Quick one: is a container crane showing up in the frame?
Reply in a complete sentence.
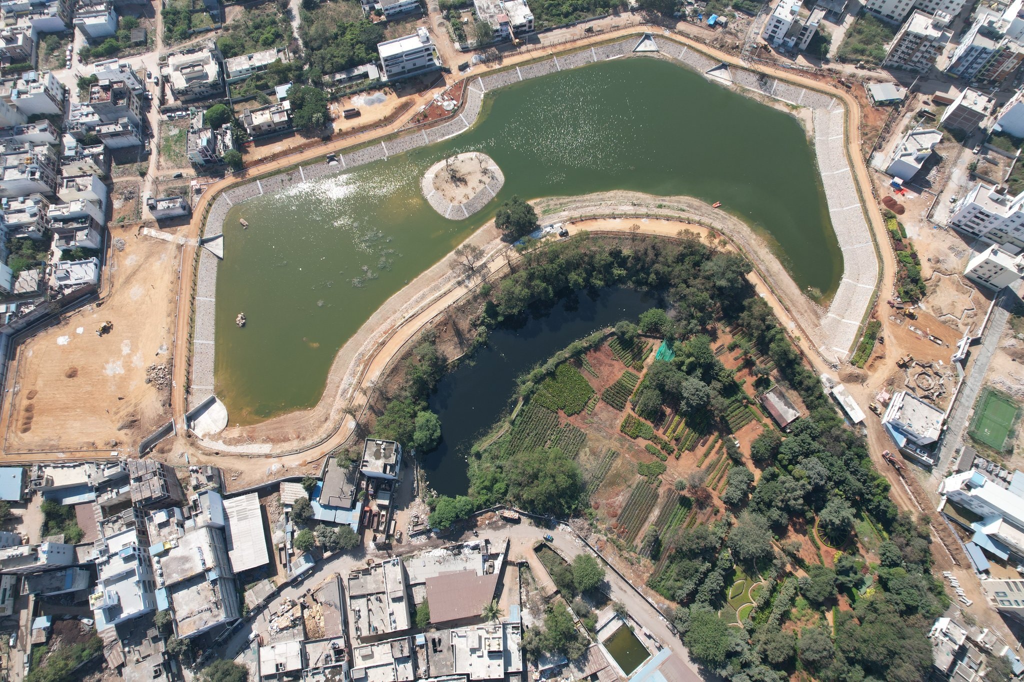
No, the scene contains no container crane.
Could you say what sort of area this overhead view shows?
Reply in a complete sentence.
It's a residential area.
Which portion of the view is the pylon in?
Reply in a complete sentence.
The pylon appears toward the top right of the photo.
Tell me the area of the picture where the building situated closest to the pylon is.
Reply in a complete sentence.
The building situated closest to the pylon is located in the top right region of the scene.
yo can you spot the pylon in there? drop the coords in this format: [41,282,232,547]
[735,0,775,62]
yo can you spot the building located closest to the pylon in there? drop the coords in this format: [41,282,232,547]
[761,0,802,50]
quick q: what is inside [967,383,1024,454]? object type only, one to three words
sports court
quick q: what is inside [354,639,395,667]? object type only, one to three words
house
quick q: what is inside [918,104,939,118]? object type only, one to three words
vehicle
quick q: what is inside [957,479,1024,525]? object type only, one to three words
building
